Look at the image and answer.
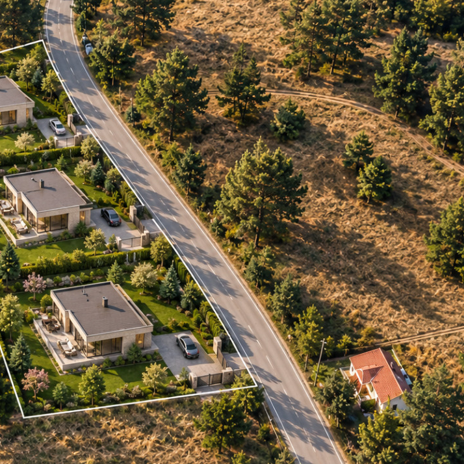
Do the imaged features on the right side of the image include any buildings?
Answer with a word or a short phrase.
Yes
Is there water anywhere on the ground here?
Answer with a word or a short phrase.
No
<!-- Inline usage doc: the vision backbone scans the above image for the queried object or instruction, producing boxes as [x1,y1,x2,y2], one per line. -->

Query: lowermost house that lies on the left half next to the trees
[27,281,163,379]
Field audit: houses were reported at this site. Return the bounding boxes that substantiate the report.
[0,169,96,251]
[310,346,416,419]
[0,77,38,137]
[27,281,163,379]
